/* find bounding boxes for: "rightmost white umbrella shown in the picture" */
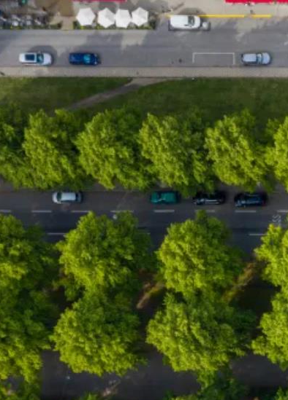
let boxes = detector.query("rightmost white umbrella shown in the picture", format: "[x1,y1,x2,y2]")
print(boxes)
[132,8,148,26]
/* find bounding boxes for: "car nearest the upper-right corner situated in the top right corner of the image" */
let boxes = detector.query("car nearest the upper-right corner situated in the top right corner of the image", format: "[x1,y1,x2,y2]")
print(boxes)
[240,50,271,66]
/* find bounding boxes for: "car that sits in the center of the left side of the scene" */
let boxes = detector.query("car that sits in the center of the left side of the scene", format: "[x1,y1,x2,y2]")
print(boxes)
[54,189,83,205]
